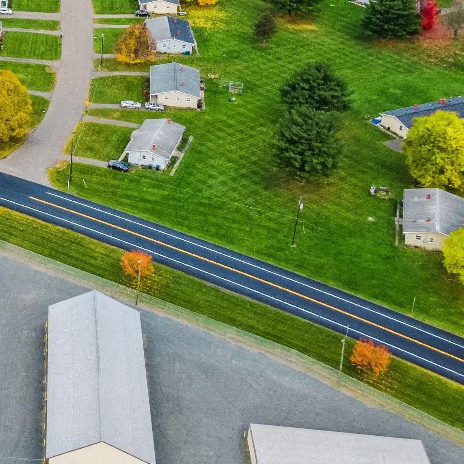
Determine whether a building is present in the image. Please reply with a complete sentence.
Yes, a building can be made out from above.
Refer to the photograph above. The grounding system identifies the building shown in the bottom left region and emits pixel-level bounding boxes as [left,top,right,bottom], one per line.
[47,290,156,464]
